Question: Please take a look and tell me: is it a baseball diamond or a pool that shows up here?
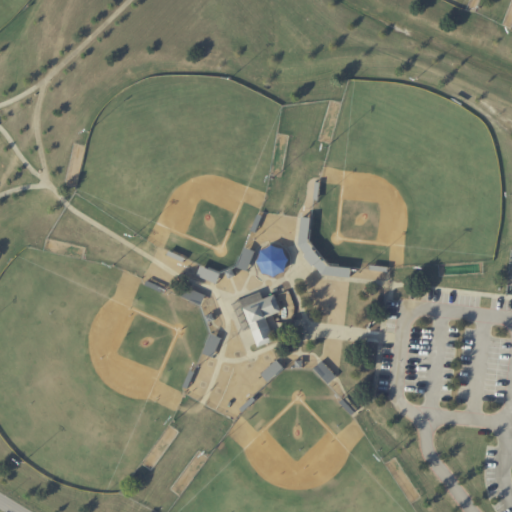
baseball diamond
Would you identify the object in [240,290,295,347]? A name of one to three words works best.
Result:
building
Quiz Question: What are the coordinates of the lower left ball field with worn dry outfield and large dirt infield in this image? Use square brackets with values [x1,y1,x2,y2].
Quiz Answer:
[0,248,209,493]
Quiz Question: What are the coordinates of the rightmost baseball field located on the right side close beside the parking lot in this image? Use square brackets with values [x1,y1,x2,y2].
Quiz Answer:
[311,80,502,272]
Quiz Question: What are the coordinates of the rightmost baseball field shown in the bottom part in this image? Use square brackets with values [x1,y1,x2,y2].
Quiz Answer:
[166,368,415,512]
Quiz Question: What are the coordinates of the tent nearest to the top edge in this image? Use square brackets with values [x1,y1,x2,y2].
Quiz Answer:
[256,244,290,278]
